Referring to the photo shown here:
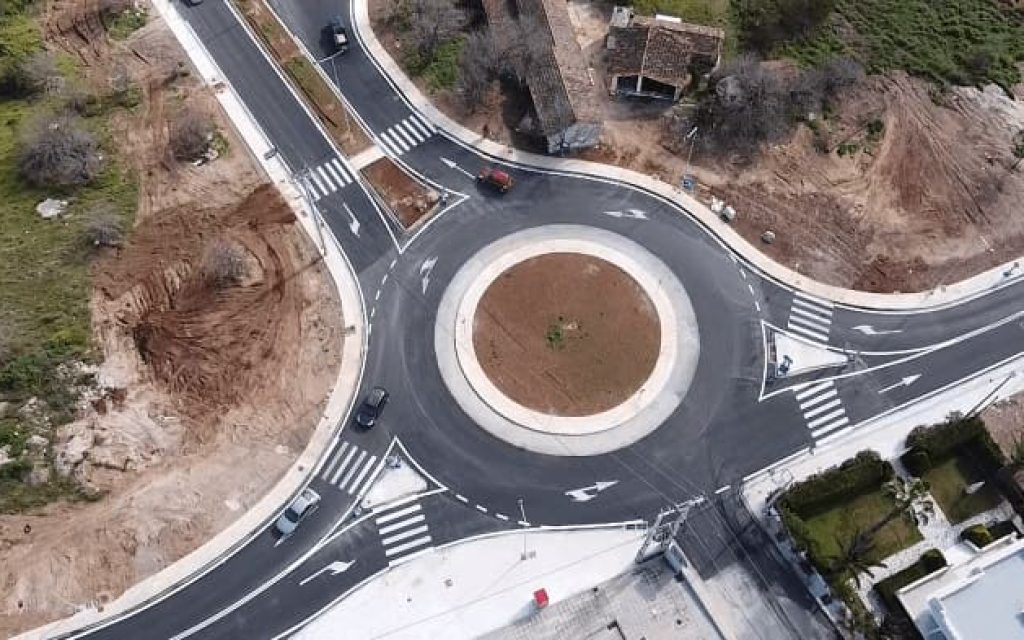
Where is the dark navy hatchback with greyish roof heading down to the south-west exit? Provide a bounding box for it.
[354,385,386,432]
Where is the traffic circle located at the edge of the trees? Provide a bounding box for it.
[370,178,764,524]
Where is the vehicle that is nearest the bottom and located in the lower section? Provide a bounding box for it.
[269,484,320,541]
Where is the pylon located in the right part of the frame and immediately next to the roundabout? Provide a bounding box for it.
[628,493,706,570]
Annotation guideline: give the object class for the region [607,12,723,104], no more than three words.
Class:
house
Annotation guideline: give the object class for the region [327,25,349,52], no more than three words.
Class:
car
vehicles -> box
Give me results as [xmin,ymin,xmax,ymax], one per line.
[269,484,320,541]
[327,25,349,52]
[354,385,386,432]
[474,168,515,194]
